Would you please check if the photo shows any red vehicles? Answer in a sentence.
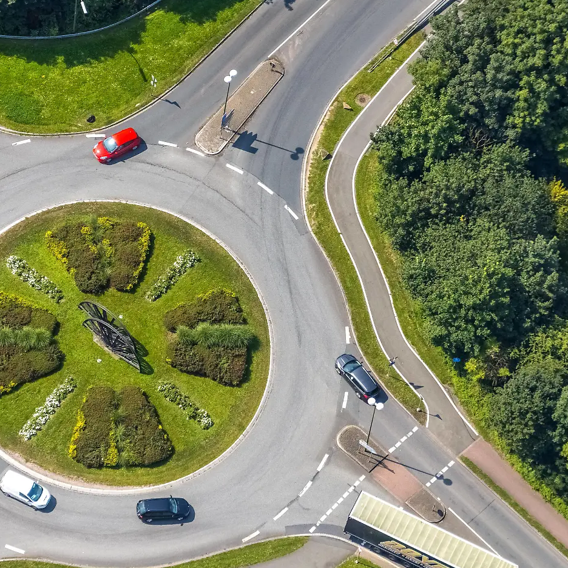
Yes, a red vehicle is visible in the scene.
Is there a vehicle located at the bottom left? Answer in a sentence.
Yes, a vehicle appears at the bottom left.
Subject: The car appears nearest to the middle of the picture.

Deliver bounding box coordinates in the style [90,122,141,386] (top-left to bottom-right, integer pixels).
[334,352,384,403]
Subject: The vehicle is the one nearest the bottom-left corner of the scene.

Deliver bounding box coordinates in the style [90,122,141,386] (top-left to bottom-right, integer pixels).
[0,467,53,512]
